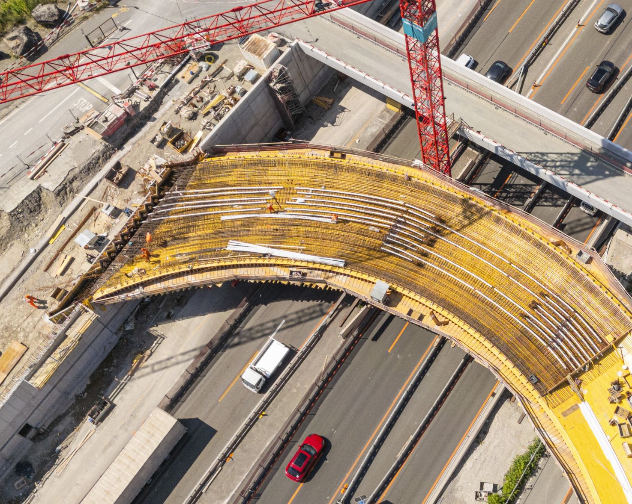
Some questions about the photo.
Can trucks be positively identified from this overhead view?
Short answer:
Yes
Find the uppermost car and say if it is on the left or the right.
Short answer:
right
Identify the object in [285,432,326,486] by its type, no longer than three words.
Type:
car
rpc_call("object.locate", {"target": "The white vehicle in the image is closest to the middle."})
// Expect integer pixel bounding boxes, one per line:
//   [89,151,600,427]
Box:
[231,318,290,408]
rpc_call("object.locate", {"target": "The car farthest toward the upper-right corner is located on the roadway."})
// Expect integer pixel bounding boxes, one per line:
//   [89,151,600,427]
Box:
[595,2,625,35]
